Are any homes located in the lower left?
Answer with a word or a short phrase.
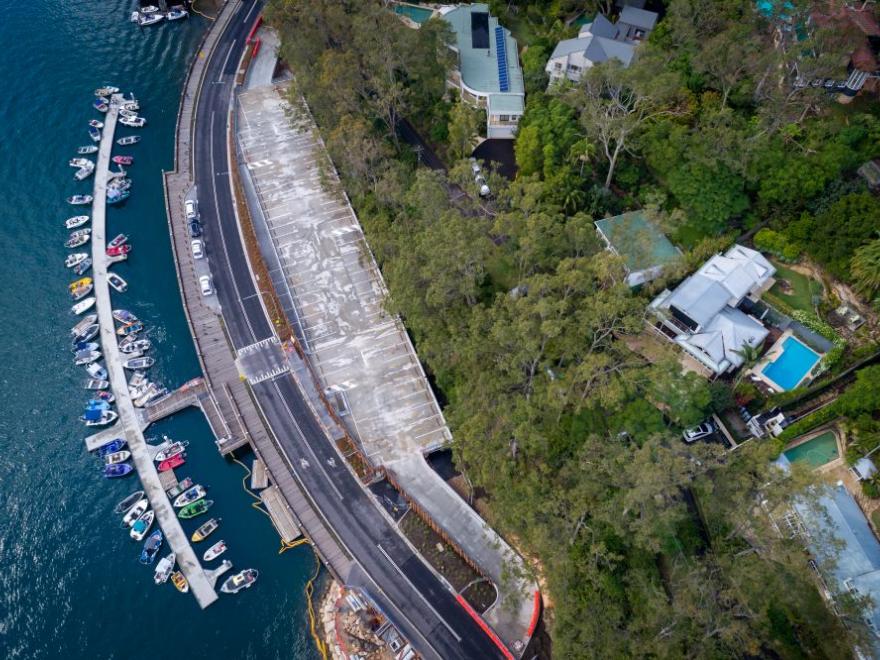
No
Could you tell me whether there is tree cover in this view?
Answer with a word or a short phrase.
Yes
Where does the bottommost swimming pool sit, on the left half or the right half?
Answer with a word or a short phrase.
right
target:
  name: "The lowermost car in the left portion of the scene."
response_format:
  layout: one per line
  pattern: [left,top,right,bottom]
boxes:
[199,275,213,297]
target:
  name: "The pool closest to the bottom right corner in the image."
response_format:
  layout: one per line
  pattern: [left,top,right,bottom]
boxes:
[776,419,848,478]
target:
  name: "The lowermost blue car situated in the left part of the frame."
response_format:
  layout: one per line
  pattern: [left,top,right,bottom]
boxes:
[188,217,202,238]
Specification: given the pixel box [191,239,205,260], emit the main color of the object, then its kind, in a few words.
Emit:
white vehicle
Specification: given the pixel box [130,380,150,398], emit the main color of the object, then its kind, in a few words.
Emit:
white boat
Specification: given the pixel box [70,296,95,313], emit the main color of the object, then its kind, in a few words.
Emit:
white boat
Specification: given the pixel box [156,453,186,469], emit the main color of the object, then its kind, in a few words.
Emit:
red boat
